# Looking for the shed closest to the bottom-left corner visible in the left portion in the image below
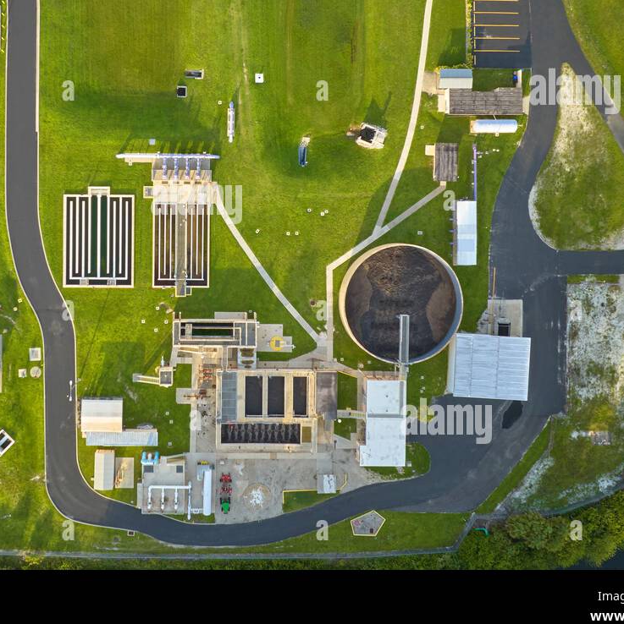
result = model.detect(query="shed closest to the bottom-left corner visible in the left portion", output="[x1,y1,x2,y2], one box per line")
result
[95,450,115,491]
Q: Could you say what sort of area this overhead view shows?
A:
industrial area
